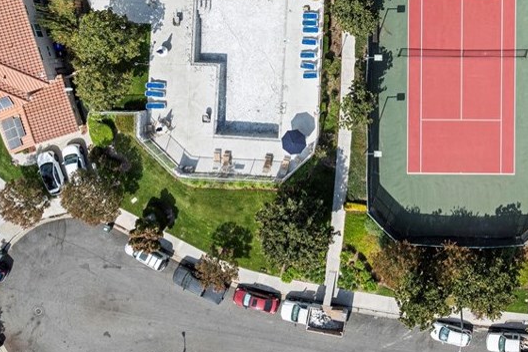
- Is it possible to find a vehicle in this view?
Yes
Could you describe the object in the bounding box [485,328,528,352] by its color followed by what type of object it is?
white truck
